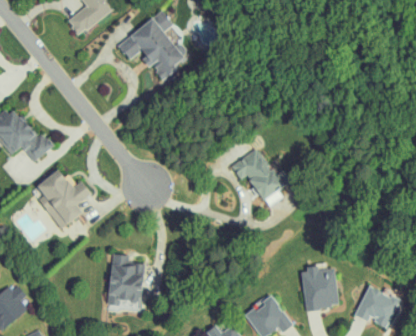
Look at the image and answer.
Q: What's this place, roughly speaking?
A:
residential area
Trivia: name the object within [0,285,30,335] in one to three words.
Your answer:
house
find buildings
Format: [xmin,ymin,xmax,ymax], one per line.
[246,296,295,336]
[0,285,30,335]
[106,254,147,306]
[70,0,116,36]
[36,170,93,230]
[206,326,242,336]
[354,286,404,332]
[230,149,286,200]
[0,108,55,164]
[302,267,340,314]
[115,8,191,83]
